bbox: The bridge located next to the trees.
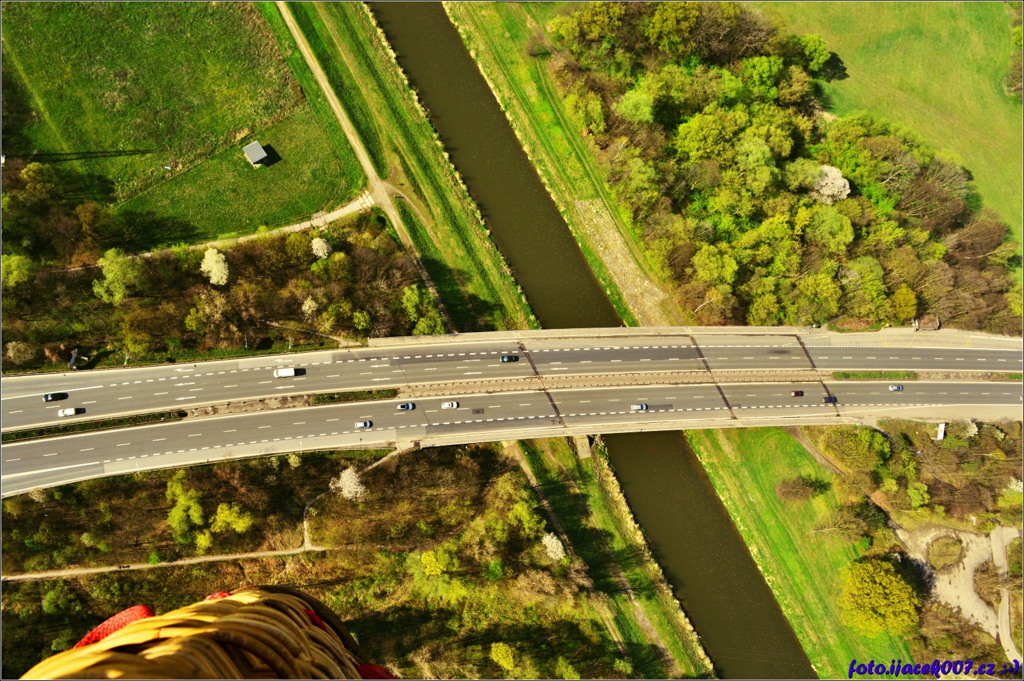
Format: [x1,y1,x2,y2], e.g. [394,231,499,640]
[366,325,861,459]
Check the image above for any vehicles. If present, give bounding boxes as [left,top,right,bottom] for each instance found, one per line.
[274,367,296,378]
[58,408,77,419]
[501,356,517,364]
[354,421,370,429]
[822,398,836,404]
[44,393,64,403]
[791,392,804,398]
[396,404,413,412]
[441,403,457,410]
[631,405,646,412]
